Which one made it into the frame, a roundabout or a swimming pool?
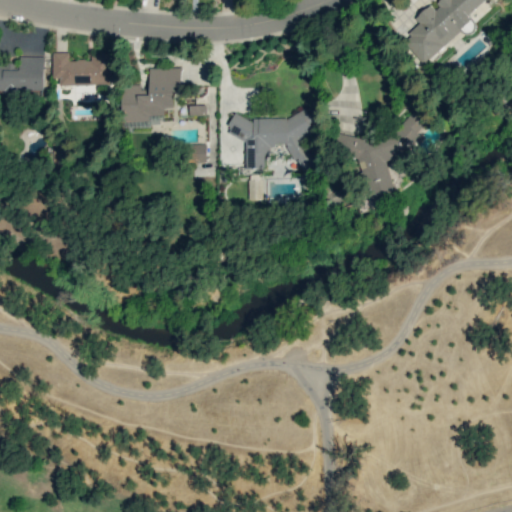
swimming pool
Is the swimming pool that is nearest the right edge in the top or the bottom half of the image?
top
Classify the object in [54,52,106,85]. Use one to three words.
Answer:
house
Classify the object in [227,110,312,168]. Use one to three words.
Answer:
house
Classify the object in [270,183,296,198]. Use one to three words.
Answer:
swimming pool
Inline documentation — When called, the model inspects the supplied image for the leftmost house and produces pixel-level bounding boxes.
[0,57,44,95]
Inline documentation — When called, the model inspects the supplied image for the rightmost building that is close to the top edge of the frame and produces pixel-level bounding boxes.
[404,0,485,61]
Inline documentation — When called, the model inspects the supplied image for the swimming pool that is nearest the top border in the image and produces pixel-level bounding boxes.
[456,39,488,67]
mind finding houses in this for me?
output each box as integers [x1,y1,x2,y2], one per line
[338,114,424,196]
[54,52,106,85]
[227,110,312,168]
[404,0,485,61]
[120,67,182,123]
[0,57,44,95]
